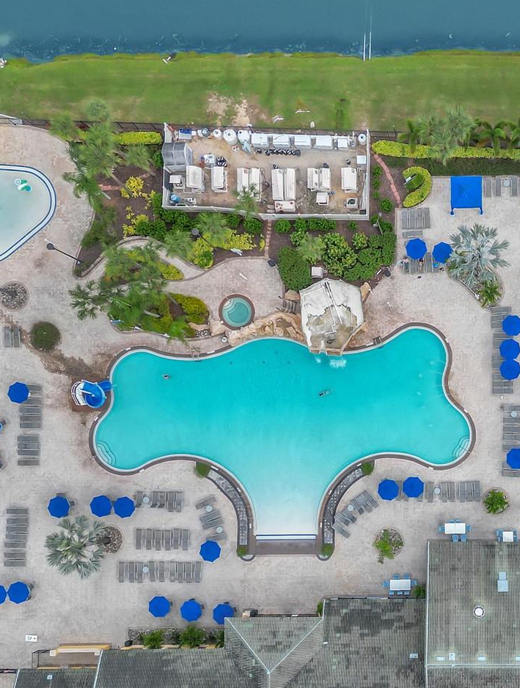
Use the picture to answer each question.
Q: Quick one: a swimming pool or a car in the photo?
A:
swimming pool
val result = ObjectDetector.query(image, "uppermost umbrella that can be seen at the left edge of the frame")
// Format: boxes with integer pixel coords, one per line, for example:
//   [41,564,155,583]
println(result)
[8,381,33,404]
